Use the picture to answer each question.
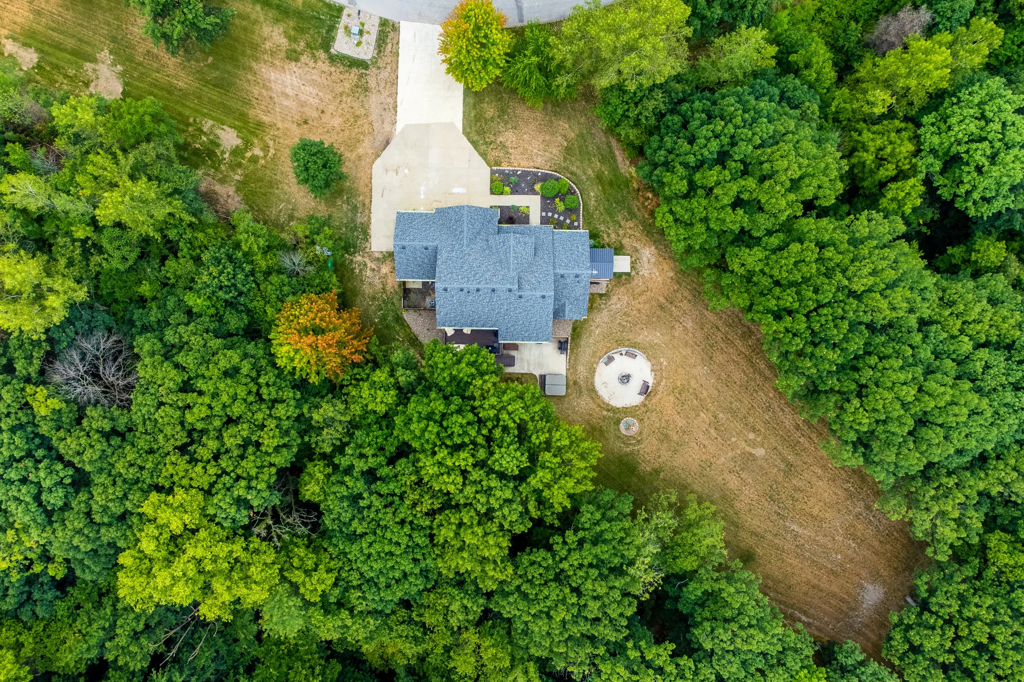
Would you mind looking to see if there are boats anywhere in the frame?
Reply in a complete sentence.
No, no boat can be seen from above.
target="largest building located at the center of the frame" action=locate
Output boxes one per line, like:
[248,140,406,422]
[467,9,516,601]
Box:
[393,205,591,344]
